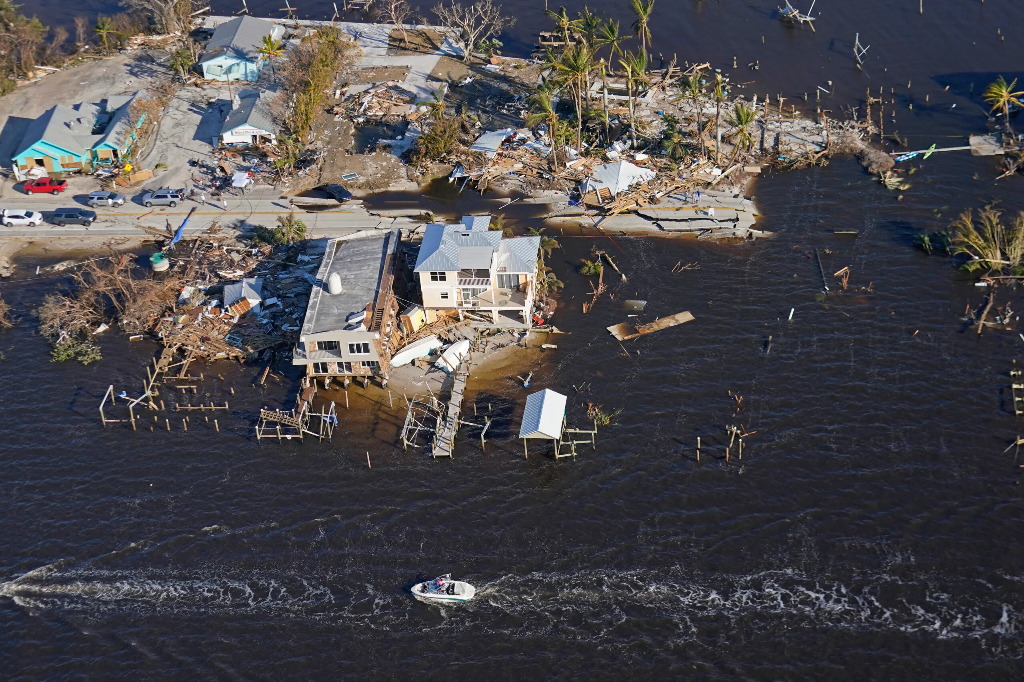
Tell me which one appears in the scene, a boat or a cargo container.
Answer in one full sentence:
It is a boat that can be seen here.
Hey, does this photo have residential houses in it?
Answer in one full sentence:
Yes, looking at the shot, I can spot a residential house.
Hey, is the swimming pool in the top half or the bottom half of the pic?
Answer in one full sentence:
You can find the swimming pool in the top half.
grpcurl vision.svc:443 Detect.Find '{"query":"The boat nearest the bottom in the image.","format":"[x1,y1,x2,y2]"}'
[411,575,479,603]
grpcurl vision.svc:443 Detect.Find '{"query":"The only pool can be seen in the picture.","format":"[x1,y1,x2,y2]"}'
[589,82,656,104]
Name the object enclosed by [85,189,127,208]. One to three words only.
car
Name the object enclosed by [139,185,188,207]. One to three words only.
car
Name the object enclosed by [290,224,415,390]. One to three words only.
house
